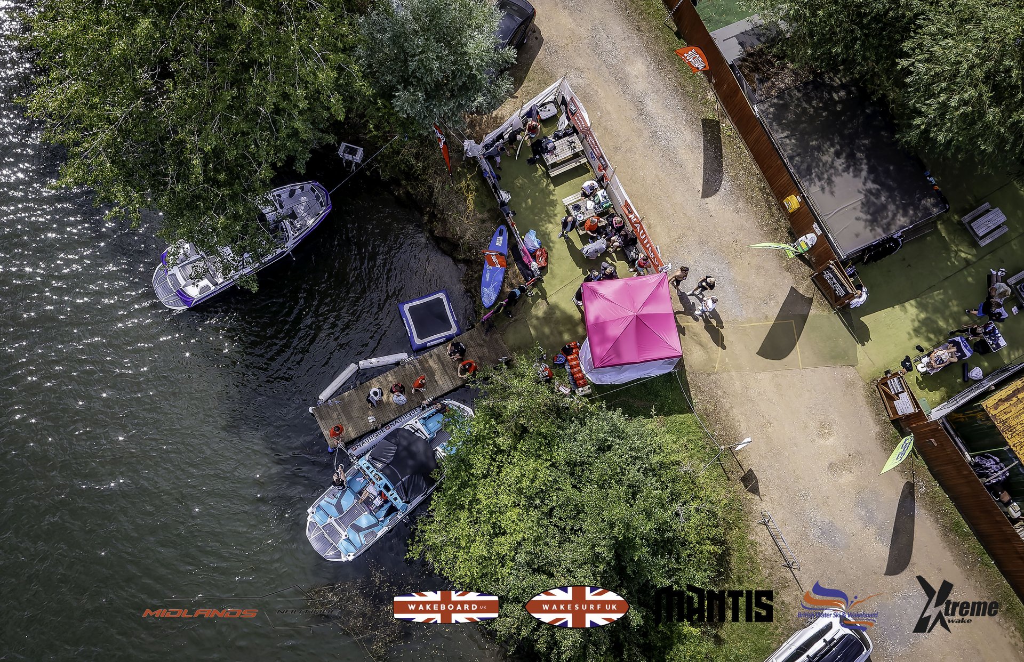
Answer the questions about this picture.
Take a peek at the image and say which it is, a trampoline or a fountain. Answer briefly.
trampoline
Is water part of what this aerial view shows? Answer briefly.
Yes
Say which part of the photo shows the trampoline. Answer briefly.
center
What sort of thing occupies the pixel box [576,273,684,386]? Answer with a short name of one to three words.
gazebo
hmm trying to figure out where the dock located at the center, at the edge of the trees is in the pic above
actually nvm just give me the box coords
[313,324,508,449]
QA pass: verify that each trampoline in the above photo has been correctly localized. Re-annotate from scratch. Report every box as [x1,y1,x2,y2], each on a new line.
[398,290,462,353]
